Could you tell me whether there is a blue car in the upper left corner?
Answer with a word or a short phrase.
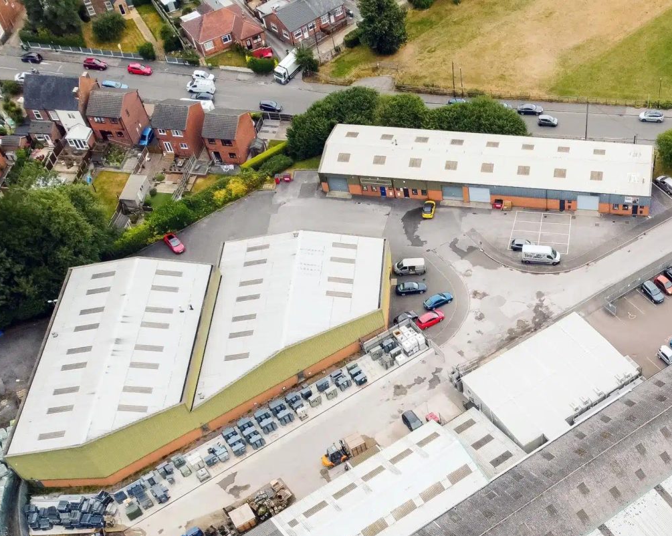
Yes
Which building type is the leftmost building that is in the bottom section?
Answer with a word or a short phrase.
warehouse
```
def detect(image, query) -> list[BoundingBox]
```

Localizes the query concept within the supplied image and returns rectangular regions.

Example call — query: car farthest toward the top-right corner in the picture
[639,109,664,123]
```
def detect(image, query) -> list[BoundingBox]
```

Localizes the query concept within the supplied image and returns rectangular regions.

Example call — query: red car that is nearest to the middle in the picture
[416,313,444,329]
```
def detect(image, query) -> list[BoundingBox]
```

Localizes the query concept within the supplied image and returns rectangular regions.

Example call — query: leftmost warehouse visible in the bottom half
[5,256,216,481]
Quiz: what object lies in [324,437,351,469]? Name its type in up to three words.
work vehicle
